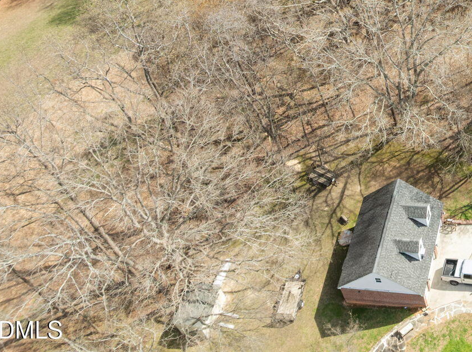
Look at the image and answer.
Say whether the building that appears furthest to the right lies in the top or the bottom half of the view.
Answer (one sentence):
You can find the building that appears furthest to the right in the bottom half.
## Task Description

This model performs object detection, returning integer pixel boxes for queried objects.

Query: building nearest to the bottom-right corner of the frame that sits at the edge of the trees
[337,179,445,307]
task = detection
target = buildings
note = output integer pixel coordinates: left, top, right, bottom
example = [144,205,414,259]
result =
[337,179,445,307]
[167,282,226,342]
